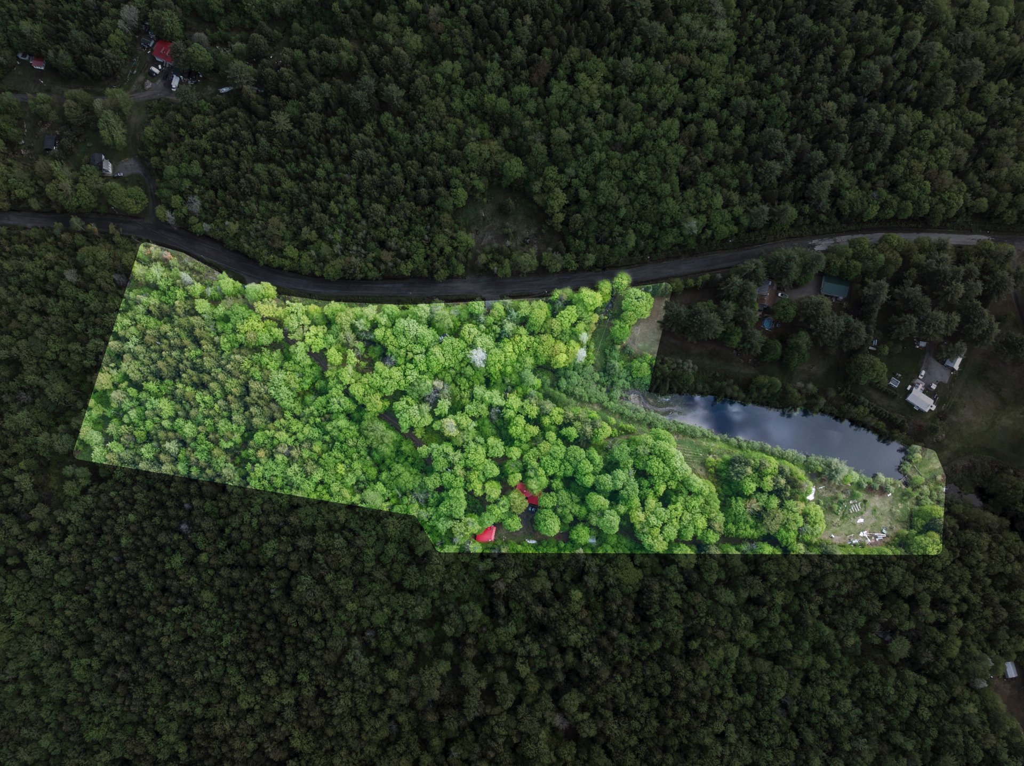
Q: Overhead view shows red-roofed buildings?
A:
Yes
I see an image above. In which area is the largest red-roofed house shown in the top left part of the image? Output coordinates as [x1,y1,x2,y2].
[150,40,179,72]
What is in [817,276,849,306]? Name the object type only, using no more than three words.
house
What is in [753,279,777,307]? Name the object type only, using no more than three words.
house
